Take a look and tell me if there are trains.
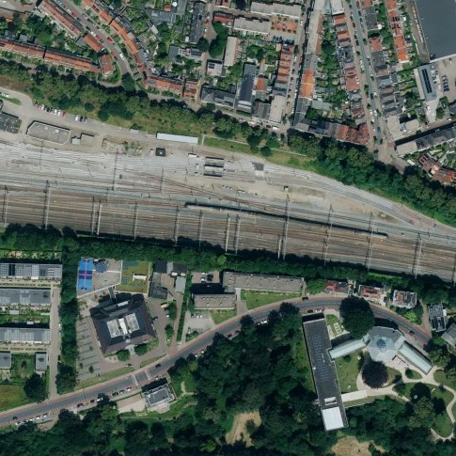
Yes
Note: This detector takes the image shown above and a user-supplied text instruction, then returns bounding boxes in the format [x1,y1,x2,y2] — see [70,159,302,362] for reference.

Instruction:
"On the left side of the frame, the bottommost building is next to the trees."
[145,385,176,413]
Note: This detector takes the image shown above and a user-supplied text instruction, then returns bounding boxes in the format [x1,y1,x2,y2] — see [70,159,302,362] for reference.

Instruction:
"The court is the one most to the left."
[75,257,94,294]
